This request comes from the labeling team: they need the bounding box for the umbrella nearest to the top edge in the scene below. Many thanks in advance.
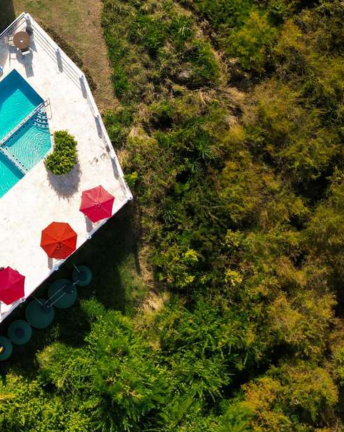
[78,185,114,223]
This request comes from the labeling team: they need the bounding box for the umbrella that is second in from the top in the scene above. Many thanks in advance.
[40,221,77,258]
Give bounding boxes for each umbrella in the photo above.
[78,185,114,223]
[0,266,25,305]
[40,221,77,258]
